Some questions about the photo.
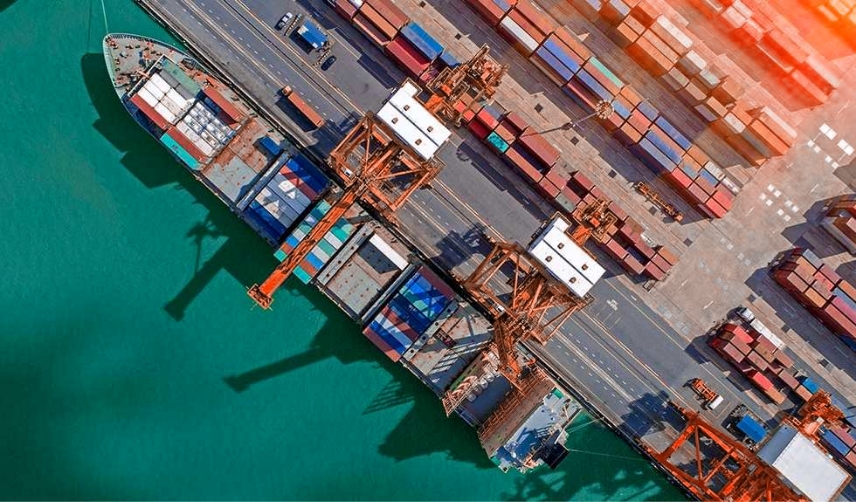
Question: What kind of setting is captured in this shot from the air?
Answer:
port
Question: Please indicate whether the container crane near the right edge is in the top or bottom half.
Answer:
bottom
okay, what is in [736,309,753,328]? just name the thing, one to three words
vehicle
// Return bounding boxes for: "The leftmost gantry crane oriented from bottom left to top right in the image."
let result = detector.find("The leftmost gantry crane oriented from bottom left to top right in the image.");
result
[242,23,499,318]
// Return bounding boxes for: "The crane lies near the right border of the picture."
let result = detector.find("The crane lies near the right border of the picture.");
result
[635,387,856,502]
